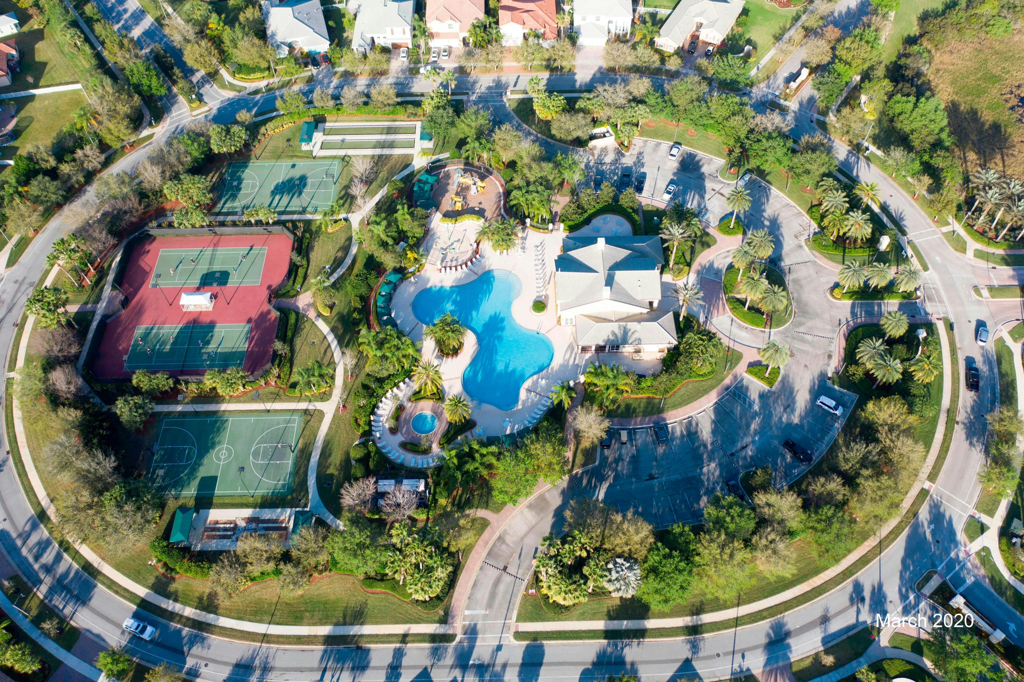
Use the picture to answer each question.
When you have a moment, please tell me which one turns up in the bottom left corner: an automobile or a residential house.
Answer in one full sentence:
Visible in the bottom left corner is an automobile.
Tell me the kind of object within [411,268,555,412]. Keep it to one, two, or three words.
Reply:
swimming pool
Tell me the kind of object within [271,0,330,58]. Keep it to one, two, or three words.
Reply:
house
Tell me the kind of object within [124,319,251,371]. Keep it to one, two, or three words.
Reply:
tennis court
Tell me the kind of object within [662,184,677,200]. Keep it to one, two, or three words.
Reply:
car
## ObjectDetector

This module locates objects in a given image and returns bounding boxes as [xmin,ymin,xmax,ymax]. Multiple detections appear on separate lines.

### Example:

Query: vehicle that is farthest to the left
[123,617,155,640]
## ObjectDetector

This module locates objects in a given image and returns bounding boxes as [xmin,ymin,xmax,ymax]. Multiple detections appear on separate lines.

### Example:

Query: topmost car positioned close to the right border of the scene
[975,326,990,347]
